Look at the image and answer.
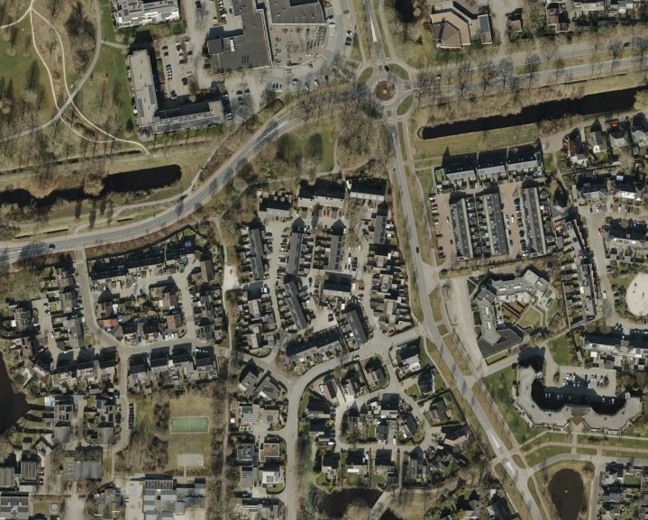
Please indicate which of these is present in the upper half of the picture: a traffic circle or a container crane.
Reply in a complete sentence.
You can see a traffic circle in the upper half of the picture.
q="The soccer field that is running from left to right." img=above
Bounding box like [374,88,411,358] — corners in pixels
[170,417,210,433]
